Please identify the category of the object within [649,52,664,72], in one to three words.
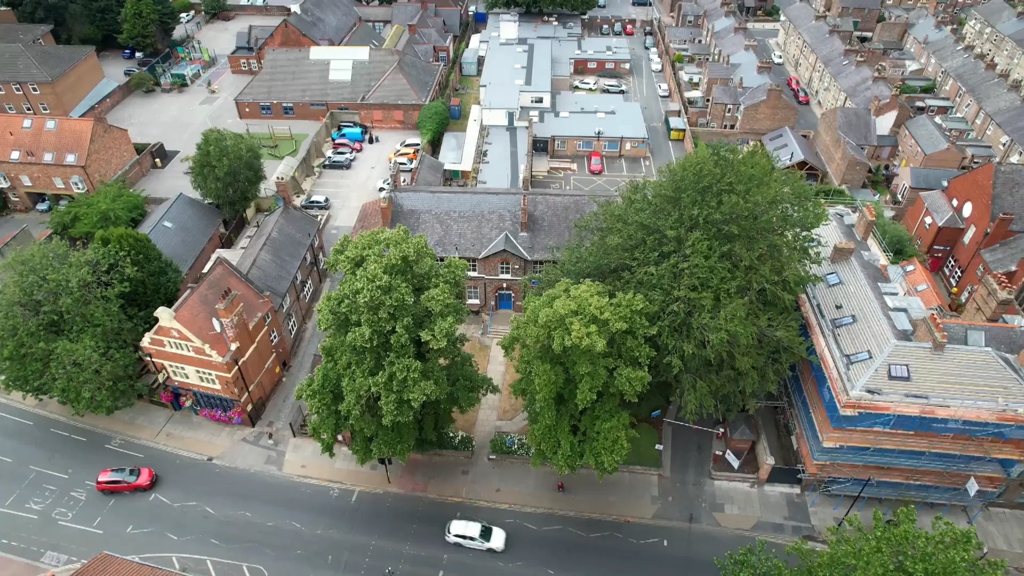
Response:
car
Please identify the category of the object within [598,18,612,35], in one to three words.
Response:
car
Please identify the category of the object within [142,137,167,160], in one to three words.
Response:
building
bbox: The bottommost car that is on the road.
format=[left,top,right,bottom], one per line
[442,513,510,549]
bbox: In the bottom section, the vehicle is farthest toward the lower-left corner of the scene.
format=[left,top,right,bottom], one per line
[88,460,159,493]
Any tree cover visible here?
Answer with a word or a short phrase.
Yes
